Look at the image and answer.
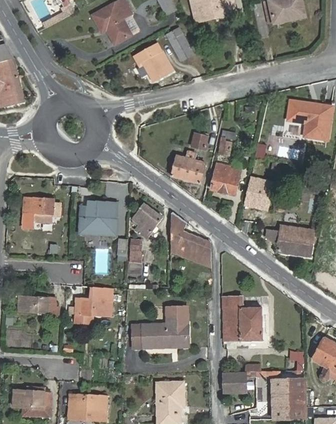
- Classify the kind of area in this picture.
residential area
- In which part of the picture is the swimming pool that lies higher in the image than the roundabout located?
top left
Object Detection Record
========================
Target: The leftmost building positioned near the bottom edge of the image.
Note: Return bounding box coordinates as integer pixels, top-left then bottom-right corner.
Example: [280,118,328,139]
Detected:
[10,390,52,419]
